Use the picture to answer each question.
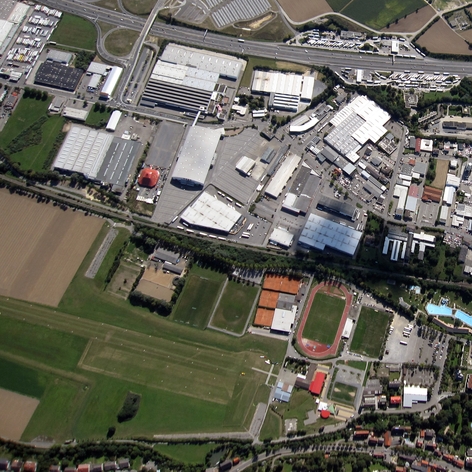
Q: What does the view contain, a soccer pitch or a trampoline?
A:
soccer pitch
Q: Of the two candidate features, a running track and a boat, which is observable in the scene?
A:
running track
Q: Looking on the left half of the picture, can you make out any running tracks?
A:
No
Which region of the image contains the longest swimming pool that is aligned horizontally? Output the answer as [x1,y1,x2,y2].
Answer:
[424,301,456,316]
